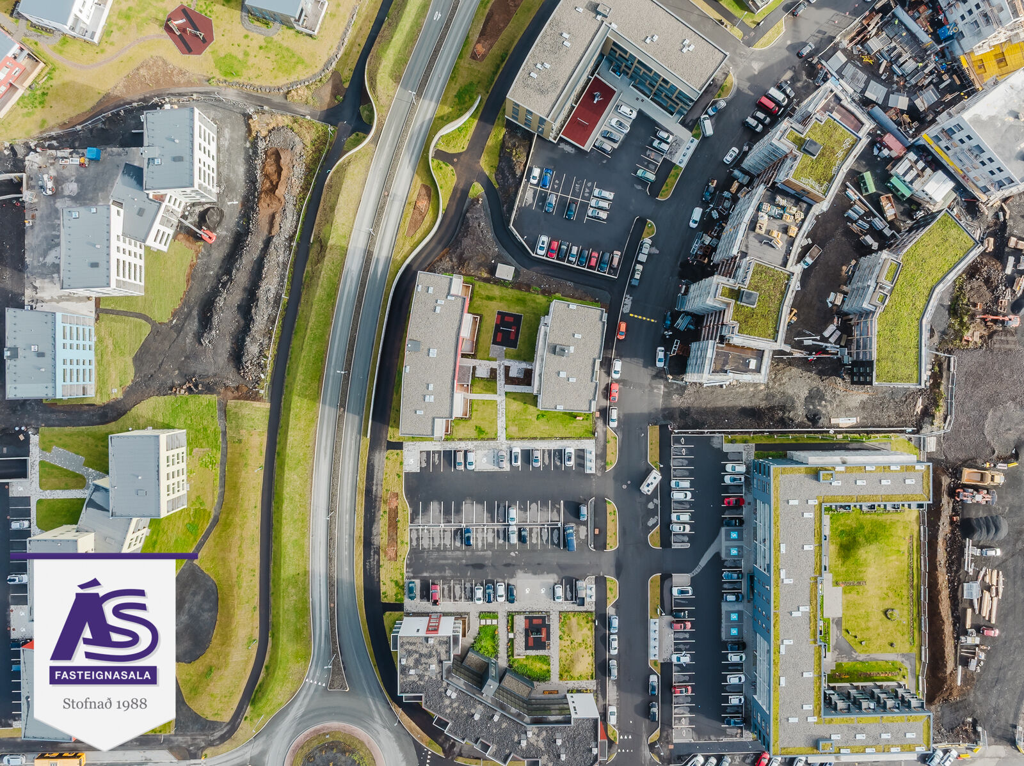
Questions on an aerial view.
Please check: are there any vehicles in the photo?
Yes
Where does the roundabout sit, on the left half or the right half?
left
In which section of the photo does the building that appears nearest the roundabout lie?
bottom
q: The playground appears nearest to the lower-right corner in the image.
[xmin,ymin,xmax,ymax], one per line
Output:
[524,616,546,651]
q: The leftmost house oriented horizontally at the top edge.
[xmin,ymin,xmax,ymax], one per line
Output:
[19,0,118,46]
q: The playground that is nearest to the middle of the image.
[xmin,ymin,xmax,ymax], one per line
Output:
[492,310,523,349]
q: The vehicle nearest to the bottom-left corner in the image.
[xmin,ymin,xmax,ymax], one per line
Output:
[5,753,26,765]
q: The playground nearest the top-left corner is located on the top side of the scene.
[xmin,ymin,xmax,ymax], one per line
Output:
[163,3,214,55]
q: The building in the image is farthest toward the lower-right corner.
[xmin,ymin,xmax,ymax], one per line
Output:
[751,450,934,763]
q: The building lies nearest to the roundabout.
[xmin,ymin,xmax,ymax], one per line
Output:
[391,617,608,766]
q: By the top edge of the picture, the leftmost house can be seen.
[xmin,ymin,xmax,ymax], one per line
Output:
[0,29,53,129]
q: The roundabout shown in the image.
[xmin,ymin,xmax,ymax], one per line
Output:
[221,675,461,766]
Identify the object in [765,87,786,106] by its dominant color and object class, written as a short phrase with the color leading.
white vehicle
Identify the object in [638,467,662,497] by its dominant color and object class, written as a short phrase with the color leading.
white camper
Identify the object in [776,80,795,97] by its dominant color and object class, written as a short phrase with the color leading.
gray car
